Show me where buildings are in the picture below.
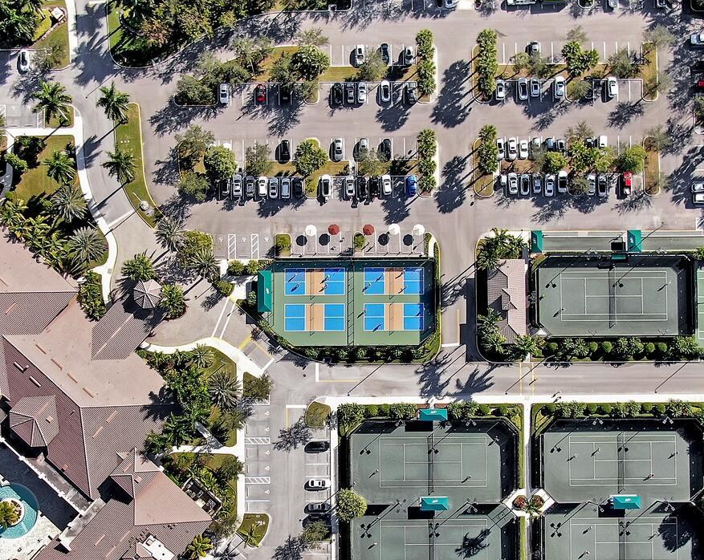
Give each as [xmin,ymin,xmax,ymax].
[487,259,526,335]
[0,220,212,560]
